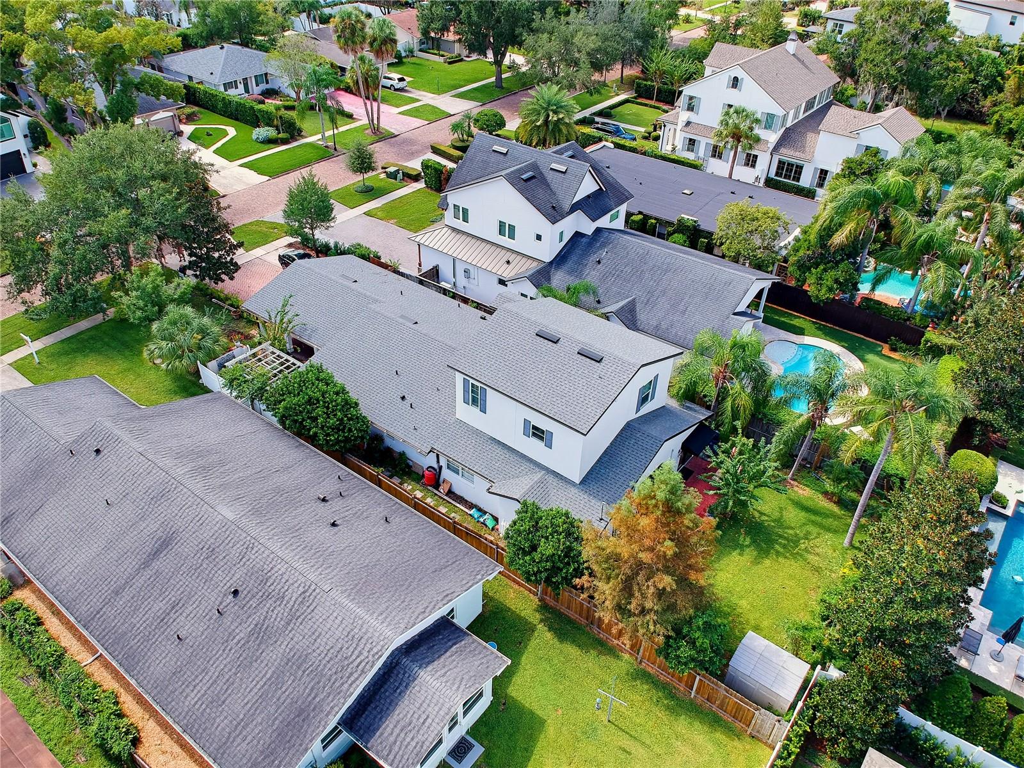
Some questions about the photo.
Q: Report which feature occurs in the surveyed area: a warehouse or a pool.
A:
pool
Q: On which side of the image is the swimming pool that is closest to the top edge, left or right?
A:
right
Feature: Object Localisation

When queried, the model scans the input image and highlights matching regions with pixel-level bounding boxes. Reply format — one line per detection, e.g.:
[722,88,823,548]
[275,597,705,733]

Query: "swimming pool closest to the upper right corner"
[852,260,958,311]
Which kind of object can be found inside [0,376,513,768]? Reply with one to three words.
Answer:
house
